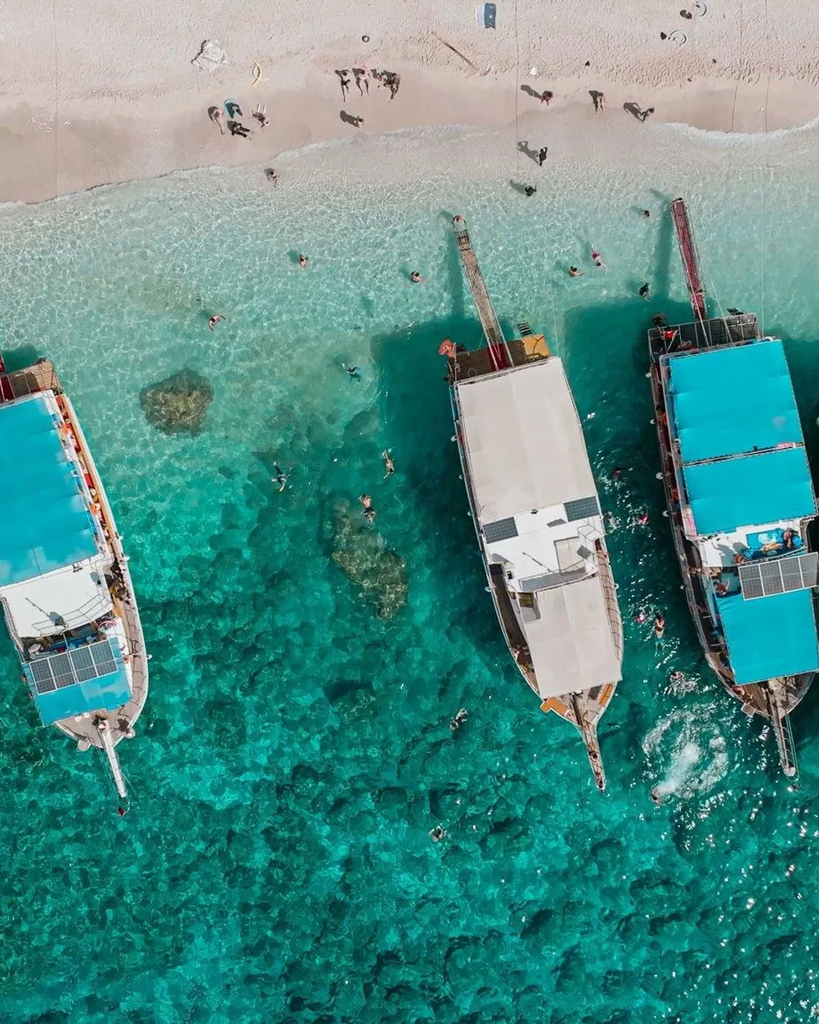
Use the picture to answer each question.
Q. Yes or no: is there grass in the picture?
No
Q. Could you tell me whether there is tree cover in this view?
No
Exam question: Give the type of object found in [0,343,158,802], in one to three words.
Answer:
boat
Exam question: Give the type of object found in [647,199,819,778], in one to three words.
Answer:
boat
